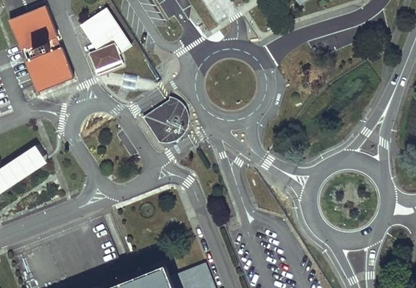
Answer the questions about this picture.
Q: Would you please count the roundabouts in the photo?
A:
2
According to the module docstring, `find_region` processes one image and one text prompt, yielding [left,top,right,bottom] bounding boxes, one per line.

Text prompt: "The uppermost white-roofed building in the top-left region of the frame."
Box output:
[80,7,132,52]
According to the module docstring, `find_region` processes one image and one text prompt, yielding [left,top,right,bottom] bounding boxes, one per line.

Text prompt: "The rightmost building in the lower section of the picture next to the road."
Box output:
[178,262,216,288]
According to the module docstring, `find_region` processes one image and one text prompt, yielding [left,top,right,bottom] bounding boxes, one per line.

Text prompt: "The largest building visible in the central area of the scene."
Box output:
[144,98,188,143]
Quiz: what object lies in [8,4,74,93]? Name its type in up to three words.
building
